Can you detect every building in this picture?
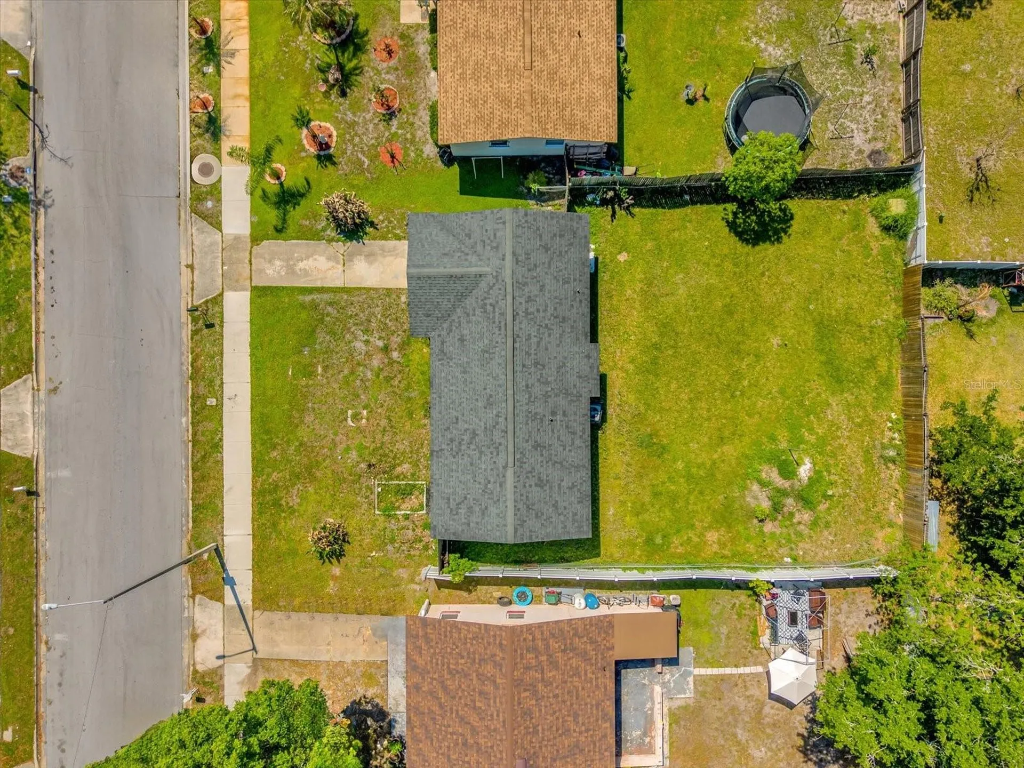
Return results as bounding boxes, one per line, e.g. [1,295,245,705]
[438,0,619,155]
[405,605,678,768]
[408,208,600,543]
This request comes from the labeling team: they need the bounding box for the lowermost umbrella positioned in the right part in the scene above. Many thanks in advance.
[768,647,817,705]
